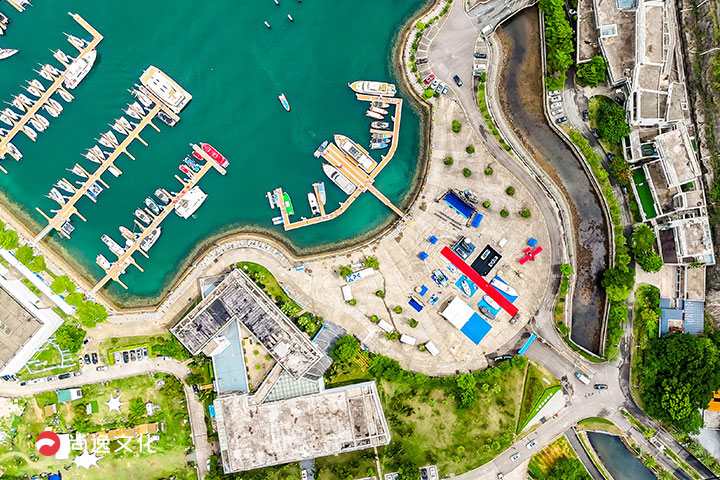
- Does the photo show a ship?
Yes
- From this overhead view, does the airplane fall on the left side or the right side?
right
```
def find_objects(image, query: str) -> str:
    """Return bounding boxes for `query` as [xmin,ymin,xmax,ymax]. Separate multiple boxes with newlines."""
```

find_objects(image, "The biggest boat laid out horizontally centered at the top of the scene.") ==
[347,79,399,96]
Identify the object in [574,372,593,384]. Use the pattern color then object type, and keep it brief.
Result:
white vehicle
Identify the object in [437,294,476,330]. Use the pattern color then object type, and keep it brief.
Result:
white tent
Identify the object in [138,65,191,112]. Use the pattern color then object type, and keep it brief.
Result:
white ship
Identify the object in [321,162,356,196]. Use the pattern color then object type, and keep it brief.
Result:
white boat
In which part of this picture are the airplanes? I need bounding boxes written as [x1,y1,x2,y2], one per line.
[522,246,546,267]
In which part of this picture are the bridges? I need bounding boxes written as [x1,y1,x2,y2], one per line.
[465,0,542,38]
